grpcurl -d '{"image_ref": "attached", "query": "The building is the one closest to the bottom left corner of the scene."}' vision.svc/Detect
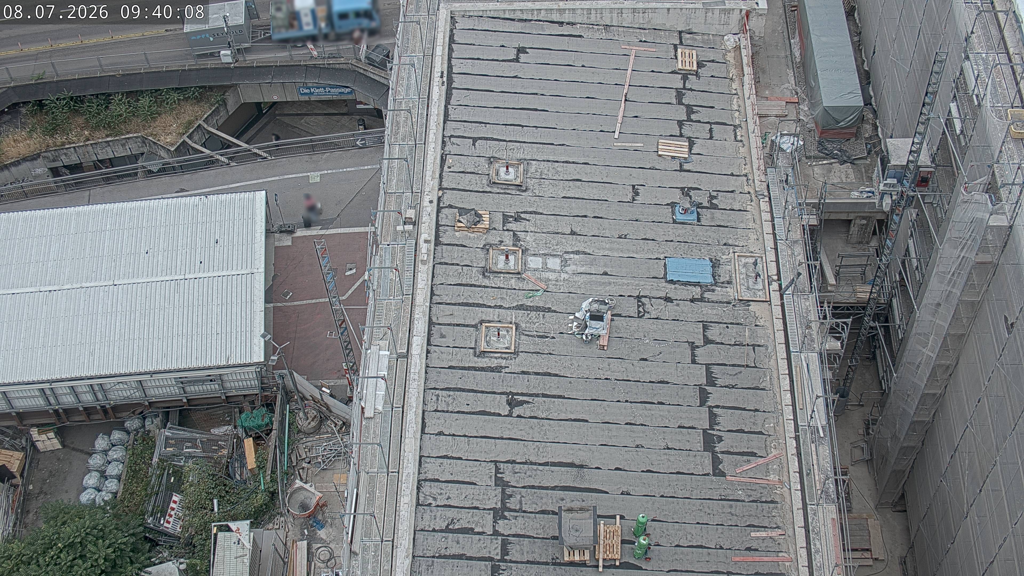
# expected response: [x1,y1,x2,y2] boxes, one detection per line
[0,190,271,435]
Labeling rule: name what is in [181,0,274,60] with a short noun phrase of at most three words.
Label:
trailer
